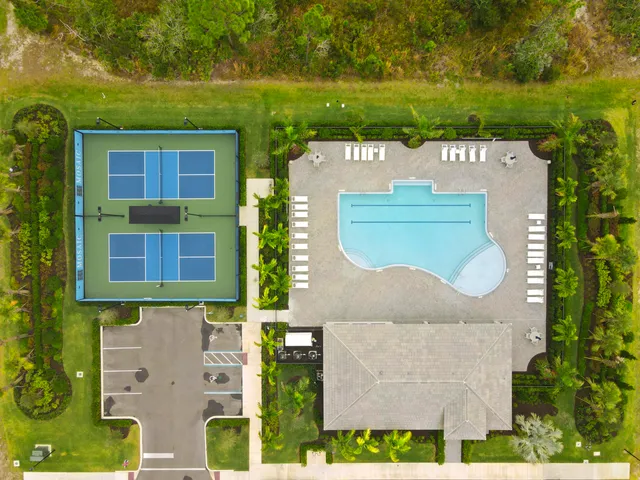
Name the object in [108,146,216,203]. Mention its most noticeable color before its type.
blue sports court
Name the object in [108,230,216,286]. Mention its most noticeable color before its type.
blue sports court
